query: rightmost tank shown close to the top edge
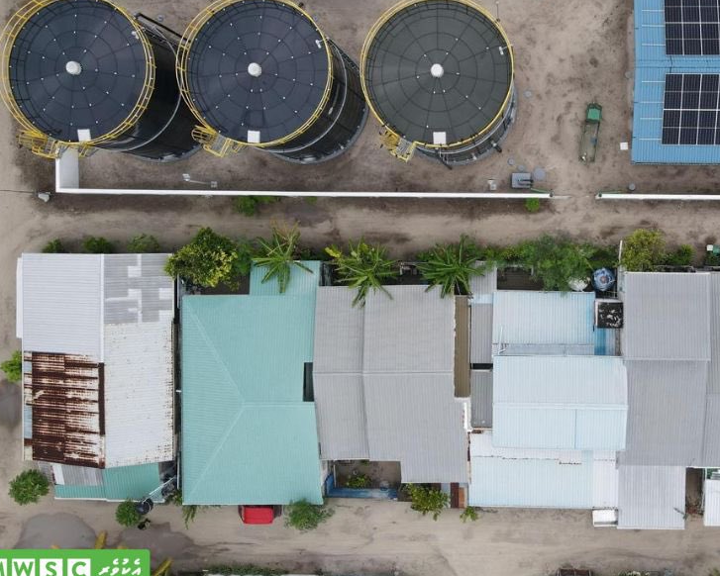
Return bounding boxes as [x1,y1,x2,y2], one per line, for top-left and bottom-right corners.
[357,0,518,166]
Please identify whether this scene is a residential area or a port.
residential area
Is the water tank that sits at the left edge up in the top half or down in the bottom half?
top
